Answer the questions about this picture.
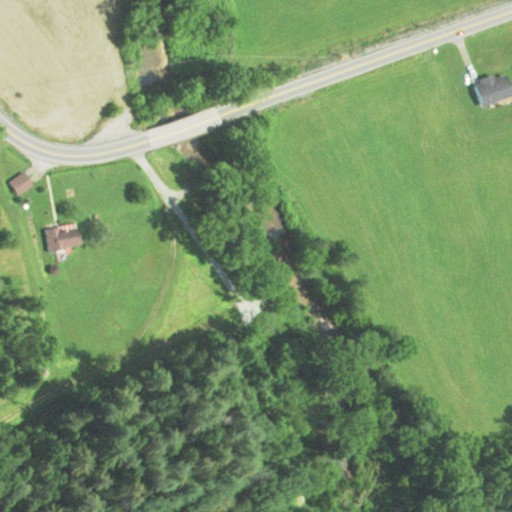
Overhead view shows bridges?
Yes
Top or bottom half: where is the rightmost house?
top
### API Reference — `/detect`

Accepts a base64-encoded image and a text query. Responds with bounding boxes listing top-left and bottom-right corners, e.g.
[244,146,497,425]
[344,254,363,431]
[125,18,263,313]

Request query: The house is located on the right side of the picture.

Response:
[475,76,512,110]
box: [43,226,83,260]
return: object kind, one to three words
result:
house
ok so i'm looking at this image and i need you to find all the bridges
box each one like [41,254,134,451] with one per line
[148,109,222,151]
